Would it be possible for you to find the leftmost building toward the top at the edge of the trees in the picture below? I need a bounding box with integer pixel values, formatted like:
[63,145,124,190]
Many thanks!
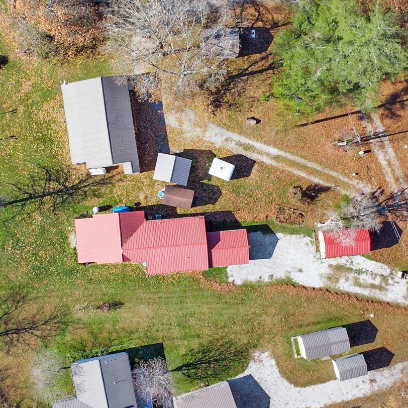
[61,76,140,174]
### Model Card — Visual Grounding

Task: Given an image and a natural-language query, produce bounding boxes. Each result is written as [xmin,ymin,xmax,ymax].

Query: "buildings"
[332,352,368,382]
[61,76,140,174]
[52,352,138,408]
[153,153,192,186]
[162,185,194,209]
[177,381,236,408]
[199,28,240,61]
[296,326,350,360]
[208,158,235,181]
[319,229,371,258]
[74,211,250,275]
